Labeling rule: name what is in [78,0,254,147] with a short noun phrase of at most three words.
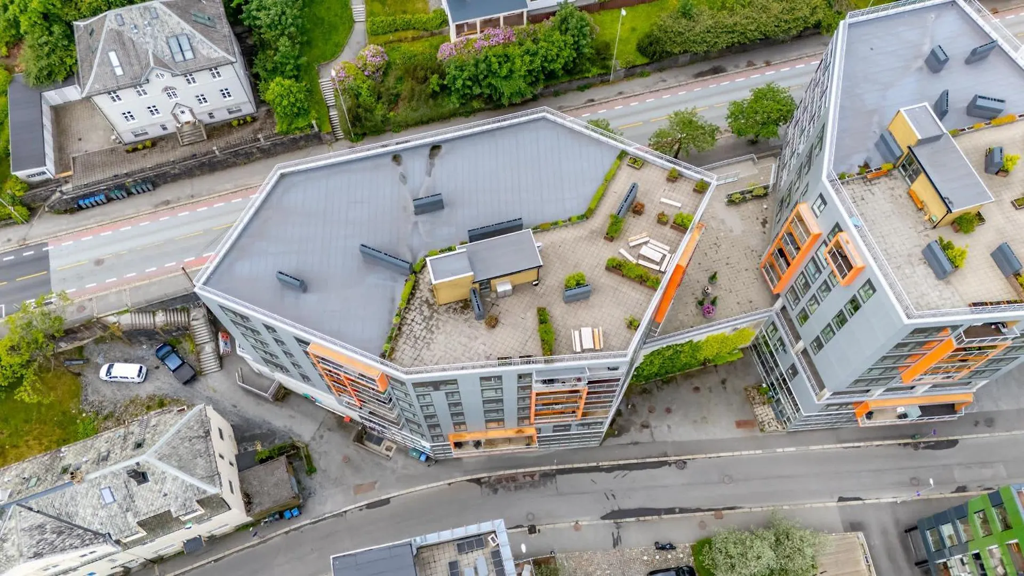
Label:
house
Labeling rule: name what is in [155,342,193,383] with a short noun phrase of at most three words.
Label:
truck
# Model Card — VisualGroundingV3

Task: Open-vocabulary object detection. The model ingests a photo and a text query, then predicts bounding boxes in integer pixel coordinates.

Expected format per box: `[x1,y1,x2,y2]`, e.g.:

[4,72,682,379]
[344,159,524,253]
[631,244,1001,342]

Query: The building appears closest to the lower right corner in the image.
[904,477,1024,576]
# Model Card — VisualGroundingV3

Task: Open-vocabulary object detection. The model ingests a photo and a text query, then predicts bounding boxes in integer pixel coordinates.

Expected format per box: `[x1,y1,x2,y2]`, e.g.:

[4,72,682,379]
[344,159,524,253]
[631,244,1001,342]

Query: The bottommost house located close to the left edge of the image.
[0,404,251,576]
